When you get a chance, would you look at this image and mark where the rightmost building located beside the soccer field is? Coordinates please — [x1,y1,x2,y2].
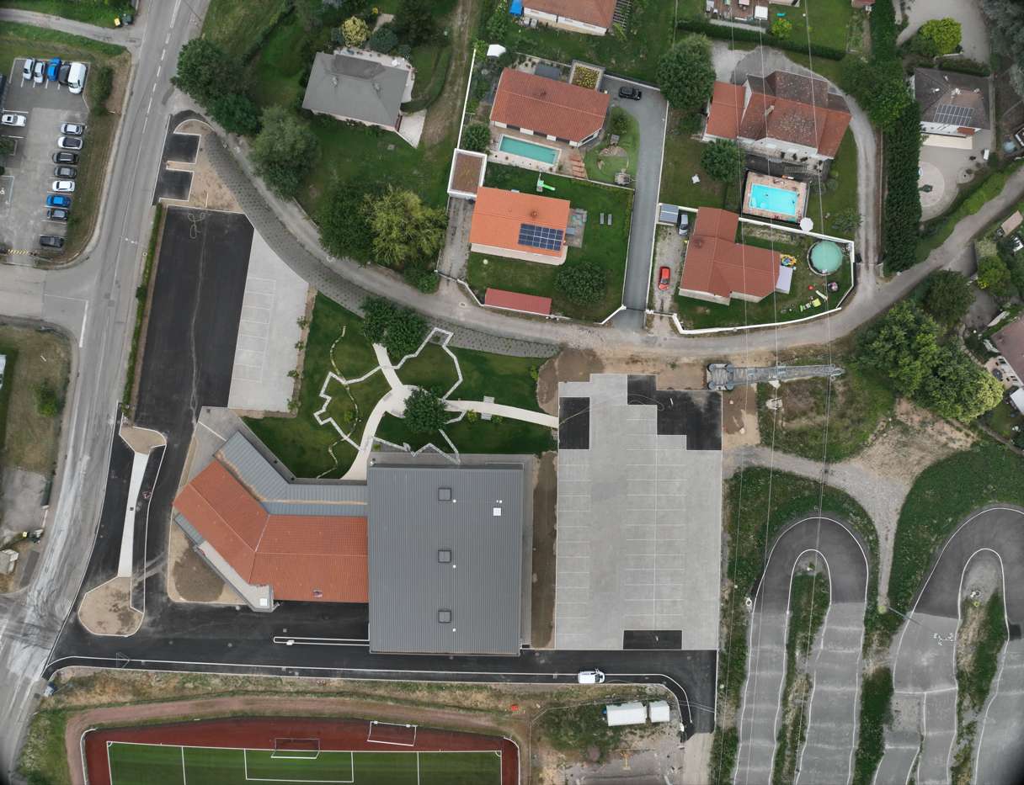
[367,460,526,657]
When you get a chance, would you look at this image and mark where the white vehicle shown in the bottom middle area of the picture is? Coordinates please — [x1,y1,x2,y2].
[578,667,605,686]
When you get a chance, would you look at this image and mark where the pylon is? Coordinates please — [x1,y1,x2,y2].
[708,355,848,389]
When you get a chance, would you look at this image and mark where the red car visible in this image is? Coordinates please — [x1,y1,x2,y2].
[658,266,671,290]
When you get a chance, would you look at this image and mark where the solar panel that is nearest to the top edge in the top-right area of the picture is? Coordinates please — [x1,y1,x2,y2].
[936,104,974,126]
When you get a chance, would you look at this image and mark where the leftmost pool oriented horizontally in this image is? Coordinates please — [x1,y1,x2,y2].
[498,133,561,166]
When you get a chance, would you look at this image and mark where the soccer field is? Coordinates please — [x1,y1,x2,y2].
[86,718,519,785]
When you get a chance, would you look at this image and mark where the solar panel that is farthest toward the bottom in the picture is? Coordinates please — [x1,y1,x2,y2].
[518,223,563,250]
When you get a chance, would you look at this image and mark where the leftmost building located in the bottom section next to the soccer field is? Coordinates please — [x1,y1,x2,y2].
[173,431,369,612]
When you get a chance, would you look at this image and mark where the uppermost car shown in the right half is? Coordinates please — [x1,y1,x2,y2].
[618,84,641,101]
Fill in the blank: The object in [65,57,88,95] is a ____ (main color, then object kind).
white vehicle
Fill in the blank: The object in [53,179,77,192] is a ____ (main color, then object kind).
white vehicle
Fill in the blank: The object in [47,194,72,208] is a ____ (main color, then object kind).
blue car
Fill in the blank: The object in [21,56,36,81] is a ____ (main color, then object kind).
white car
